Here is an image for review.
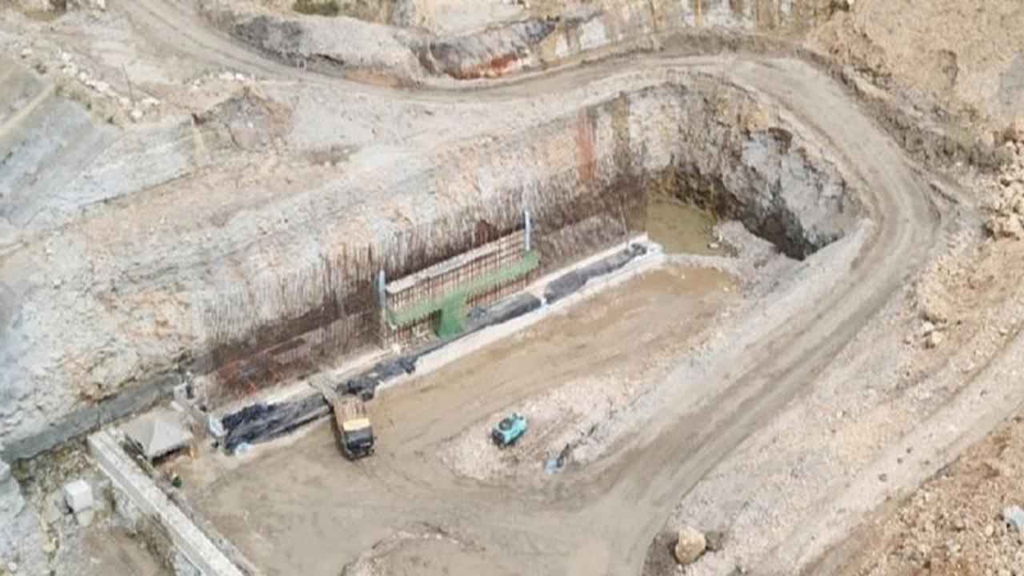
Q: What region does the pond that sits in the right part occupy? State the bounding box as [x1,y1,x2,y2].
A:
[638,173,744,251]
